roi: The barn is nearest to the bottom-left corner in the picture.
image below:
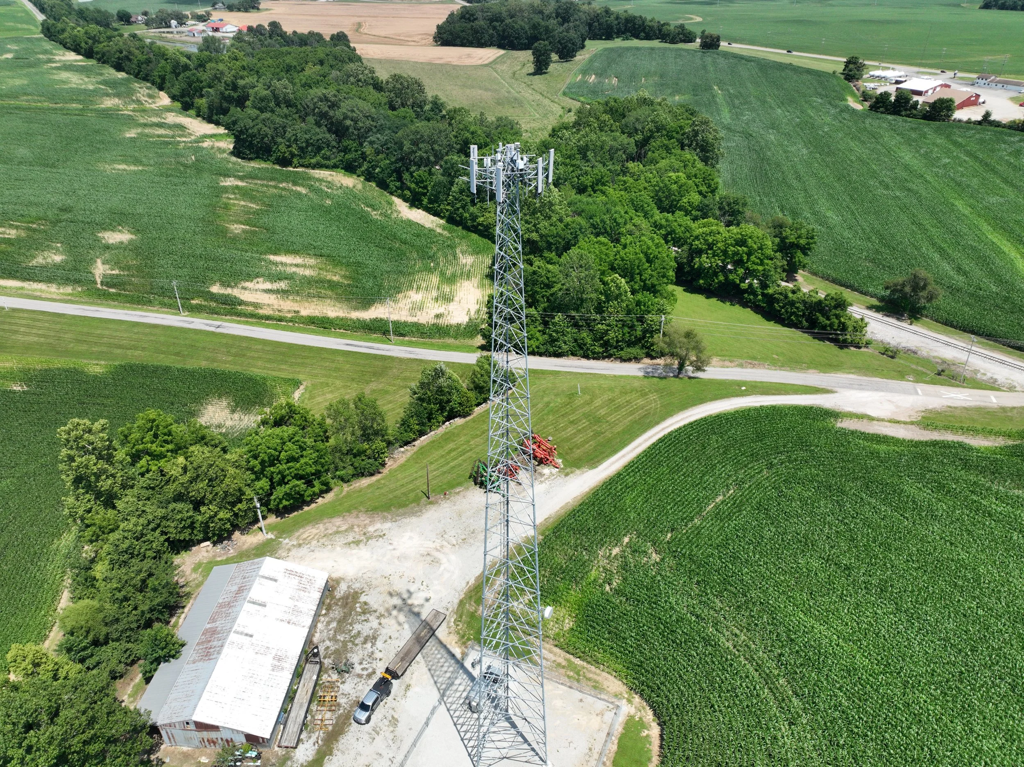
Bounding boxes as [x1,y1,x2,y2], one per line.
[132,555,330,749]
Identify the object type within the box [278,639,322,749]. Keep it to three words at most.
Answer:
trailer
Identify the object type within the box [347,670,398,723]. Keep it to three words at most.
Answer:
truck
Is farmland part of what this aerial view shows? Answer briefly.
Yes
